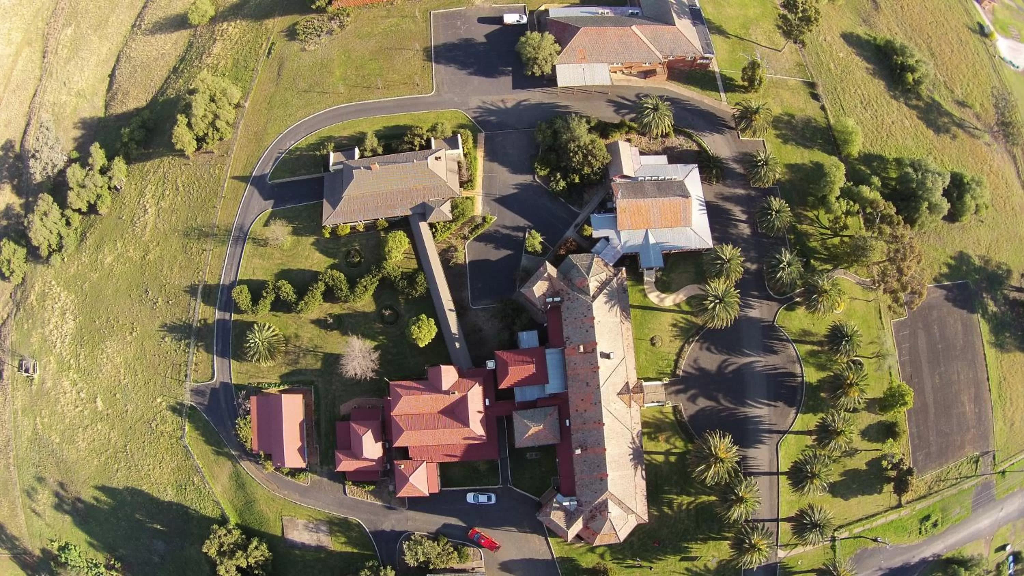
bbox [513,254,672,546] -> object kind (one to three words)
building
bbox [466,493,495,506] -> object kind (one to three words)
vehicle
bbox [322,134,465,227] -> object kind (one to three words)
house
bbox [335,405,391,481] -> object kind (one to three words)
house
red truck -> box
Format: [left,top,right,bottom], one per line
[468,528,501,558]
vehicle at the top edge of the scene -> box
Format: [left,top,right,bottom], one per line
[503,10,527,24]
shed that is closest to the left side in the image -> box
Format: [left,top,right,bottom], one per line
[250,394,311,468]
